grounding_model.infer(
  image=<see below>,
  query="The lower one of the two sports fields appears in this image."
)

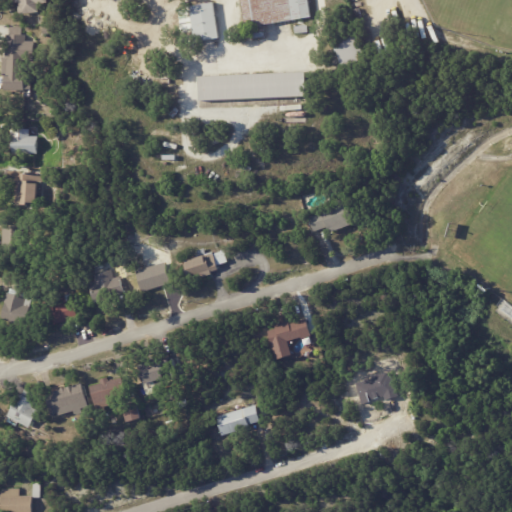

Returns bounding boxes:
[471,168,512,292]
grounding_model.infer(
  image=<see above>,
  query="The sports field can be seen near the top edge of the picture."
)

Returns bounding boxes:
[428,0,512,48]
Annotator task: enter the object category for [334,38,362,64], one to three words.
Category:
building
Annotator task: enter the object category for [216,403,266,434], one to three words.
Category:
house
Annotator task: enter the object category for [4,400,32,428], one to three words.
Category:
house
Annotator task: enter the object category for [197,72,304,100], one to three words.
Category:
building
